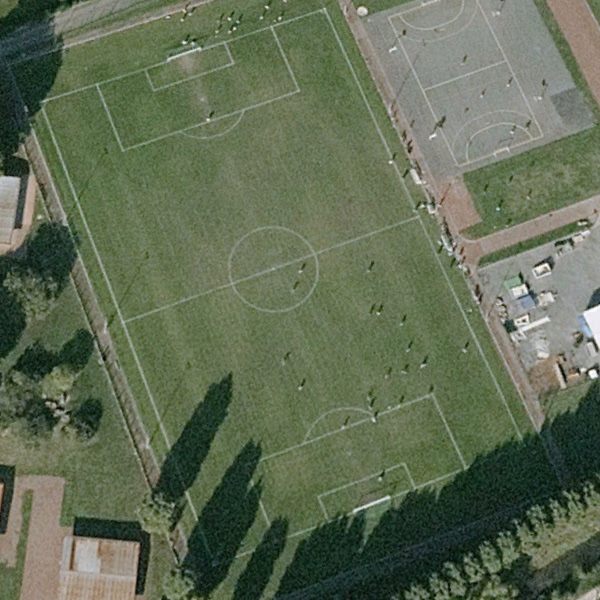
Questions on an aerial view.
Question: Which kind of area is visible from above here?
sports ground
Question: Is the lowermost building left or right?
left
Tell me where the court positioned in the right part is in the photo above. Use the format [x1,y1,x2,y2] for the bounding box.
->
[362,0,598,179]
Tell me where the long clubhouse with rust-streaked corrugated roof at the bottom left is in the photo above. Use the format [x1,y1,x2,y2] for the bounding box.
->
[57,538,139,600]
